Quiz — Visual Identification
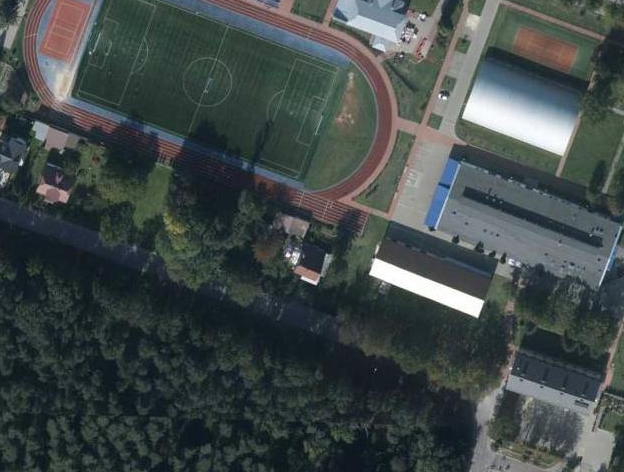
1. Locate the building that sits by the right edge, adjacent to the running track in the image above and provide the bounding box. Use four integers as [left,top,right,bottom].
[425,158,623,287]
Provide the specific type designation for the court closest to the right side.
tennis court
